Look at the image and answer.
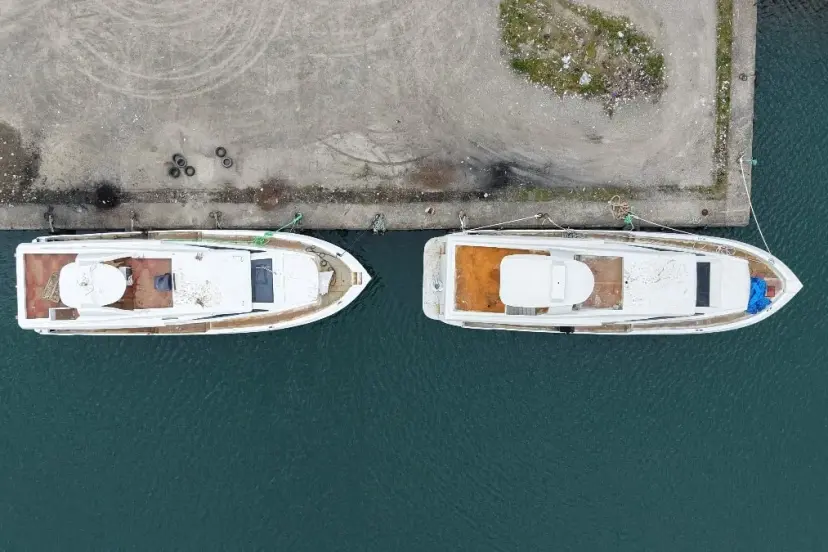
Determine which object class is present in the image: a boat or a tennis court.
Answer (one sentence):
I can see a boat in this picture.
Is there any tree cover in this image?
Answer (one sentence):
No, no tree cover is visible.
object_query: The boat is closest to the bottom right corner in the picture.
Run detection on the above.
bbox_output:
[423,230,803,334]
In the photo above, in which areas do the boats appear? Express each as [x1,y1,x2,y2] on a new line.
[13,230,372,335]
[423,230,803,334]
